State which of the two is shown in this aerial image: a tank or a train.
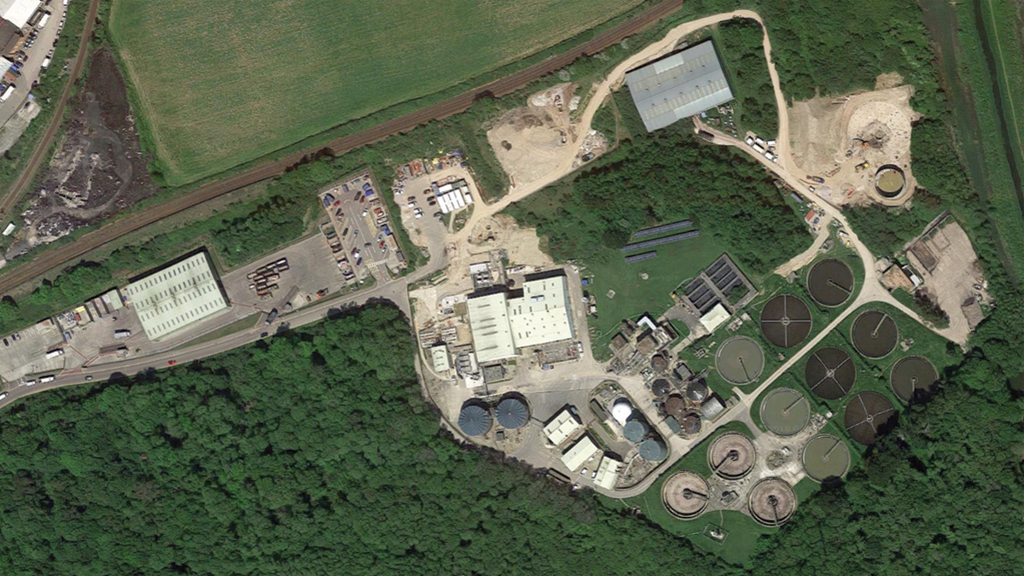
tank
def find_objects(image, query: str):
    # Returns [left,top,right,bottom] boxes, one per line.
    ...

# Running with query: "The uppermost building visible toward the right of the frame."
[626,40,735,132]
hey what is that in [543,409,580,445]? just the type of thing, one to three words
shed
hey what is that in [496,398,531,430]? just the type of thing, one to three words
storage tank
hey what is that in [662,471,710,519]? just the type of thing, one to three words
storage tank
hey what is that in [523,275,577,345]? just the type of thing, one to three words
building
